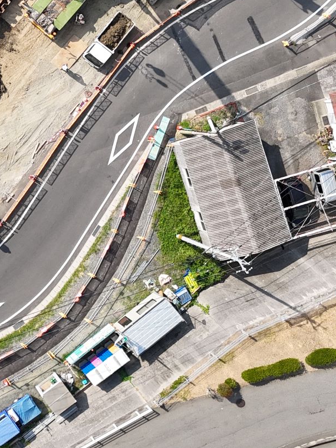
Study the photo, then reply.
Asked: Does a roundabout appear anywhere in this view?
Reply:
No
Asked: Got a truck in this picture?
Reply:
Yes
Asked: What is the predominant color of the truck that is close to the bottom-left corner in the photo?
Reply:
blue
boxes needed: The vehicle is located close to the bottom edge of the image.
[0,389,49,448]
